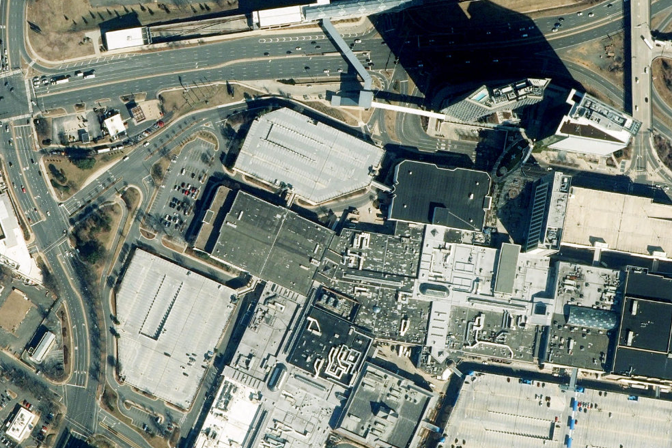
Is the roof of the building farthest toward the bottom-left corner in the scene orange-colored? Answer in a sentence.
No, the roof of the building farthest toward the bottom-left corner is actually white.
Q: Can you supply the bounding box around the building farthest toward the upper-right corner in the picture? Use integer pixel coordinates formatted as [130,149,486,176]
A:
[535,89,642,155]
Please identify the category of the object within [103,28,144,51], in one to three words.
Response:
building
